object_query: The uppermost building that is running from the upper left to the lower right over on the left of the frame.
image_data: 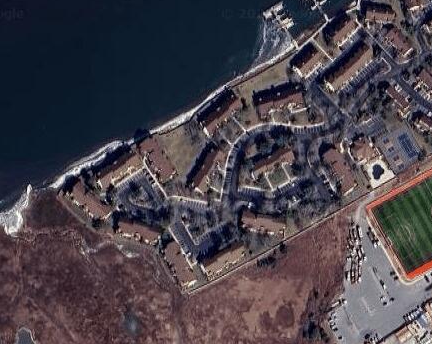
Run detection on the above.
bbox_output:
[140,141,178,187]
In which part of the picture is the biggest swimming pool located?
right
